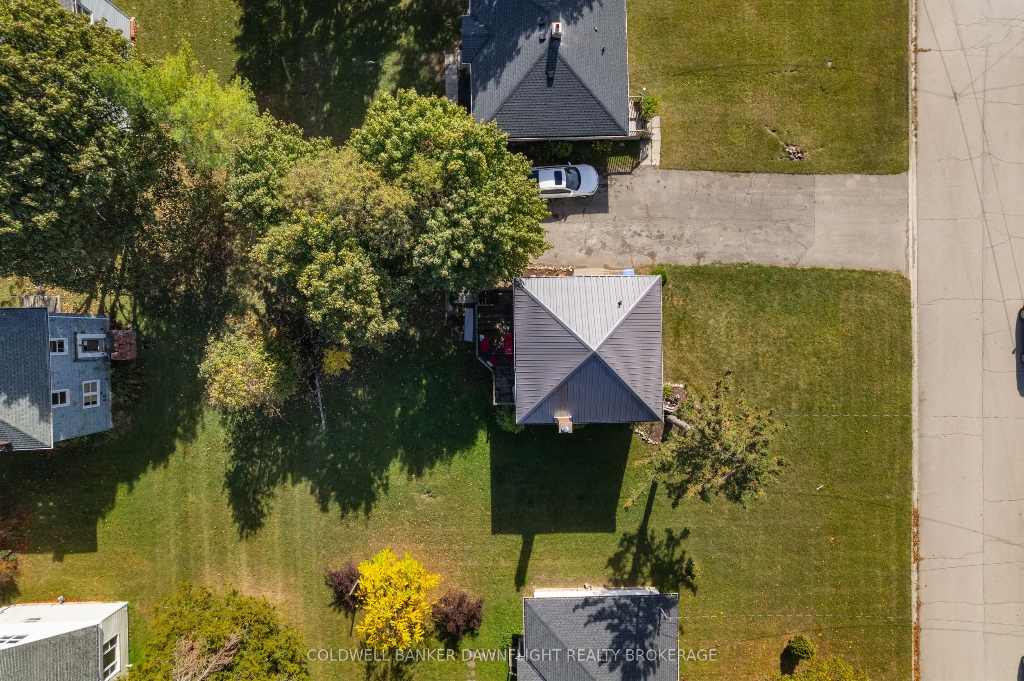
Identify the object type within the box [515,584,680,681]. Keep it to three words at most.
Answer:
house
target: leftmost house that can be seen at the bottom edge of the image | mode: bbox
[0,602,130,681]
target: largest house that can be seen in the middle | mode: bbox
[514,274,664,434]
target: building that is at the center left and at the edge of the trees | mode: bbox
[0,304,114,451]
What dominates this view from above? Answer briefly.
grass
